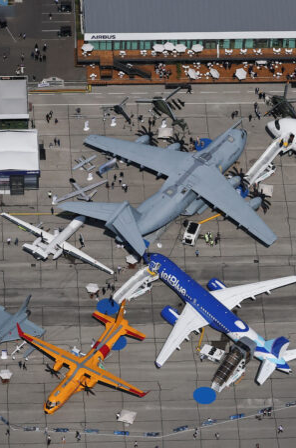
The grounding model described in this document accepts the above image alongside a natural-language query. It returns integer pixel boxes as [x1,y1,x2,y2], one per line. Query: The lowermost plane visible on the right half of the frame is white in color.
[142,256,296,385]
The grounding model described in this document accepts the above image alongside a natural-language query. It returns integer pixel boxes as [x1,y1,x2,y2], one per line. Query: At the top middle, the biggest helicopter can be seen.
[134,87,196,136]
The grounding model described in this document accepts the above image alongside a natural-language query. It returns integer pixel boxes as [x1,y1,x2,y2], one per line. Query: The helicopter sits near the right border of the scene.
[258,83,296,120]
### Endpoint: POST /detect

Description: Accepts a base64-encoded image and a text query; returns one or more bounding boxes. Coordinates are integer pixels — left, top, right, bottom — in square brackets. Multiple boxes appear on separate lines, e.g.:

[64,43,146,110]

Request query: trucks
[181,220,202,249]
[196,340,225,364]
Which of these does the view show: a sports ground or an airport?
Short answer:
airport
